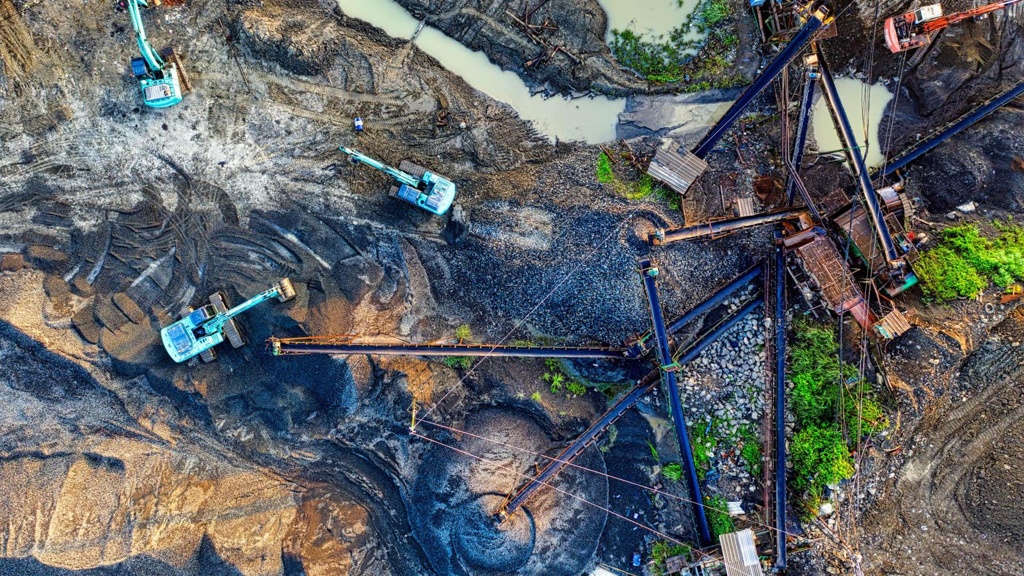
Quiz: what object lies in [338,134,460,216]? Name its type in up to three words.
work vehicle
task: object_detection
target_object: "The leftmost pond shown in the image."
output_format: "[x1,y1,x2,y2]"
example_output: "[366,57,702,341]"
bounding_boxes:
[600,0,716,82]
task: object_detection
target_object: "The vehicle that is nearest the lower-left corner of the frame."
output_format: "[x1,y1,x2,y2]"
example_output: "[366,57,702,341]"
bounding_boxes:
[166,277,305,365]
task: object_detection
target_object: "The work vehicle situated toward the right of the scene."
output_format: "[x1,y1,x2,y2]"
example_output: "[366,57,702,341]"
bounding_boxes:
[882,1,1024,77]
